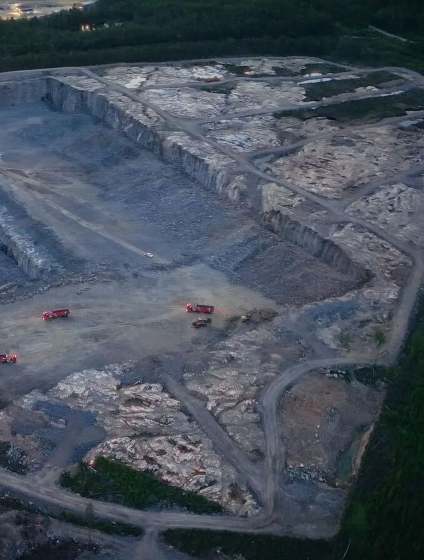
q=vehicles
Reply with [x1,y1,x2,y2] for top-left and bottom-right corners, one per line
[0,353,15,363]
[190,317,210,328]
[44,308,69,320]
[240,310,262,322]
[188,303,214,314]
[144,252,153,258]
